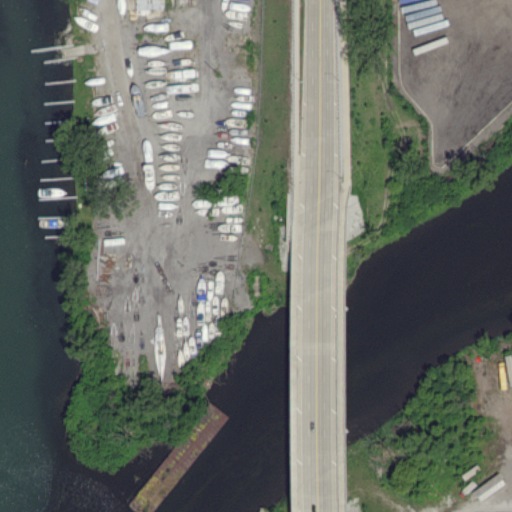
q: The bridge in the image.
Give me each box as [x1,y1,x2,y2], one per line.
[290,186,350,512]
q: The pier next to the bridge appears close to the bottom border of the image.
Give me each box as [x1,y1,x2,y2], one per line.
[124,403,228,512]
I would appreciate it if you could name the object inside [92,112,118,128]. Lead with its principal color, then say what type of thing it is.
white boat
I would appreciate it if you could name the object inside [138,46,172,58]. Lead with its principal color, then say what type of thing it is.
white boat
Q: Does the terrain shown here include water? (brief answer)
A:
Yes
